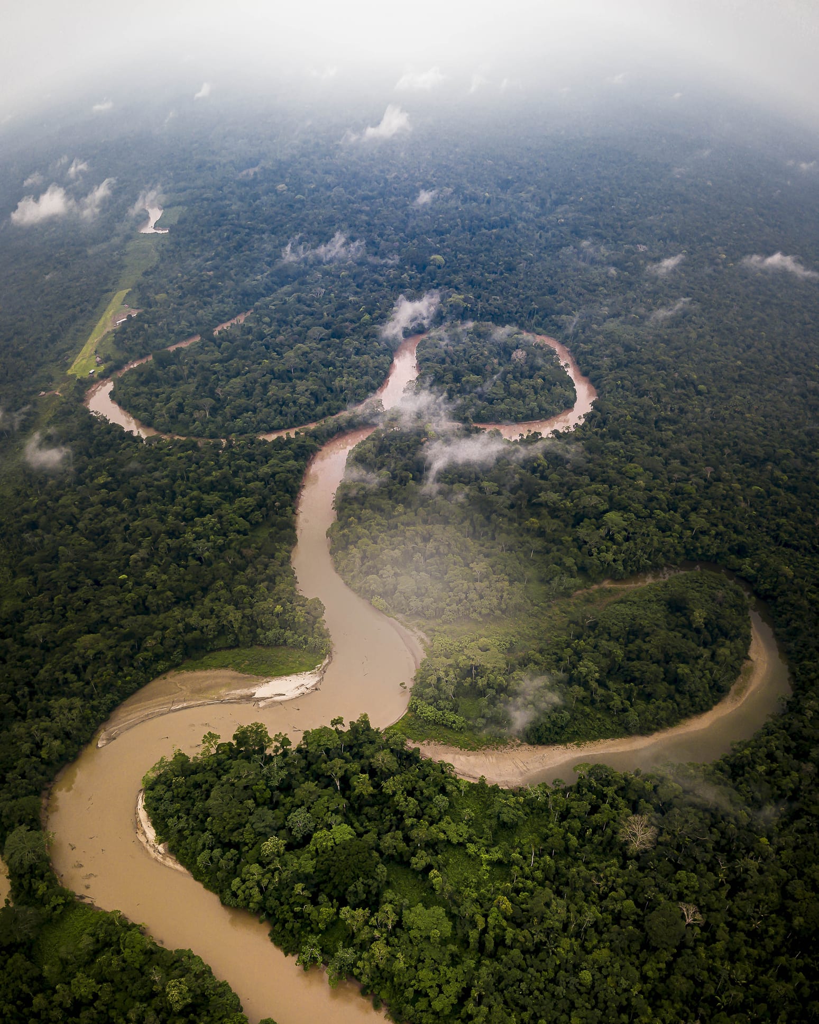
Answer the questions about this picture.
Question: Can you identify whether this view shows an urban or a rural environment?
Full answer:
From above, the setting appears rural.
